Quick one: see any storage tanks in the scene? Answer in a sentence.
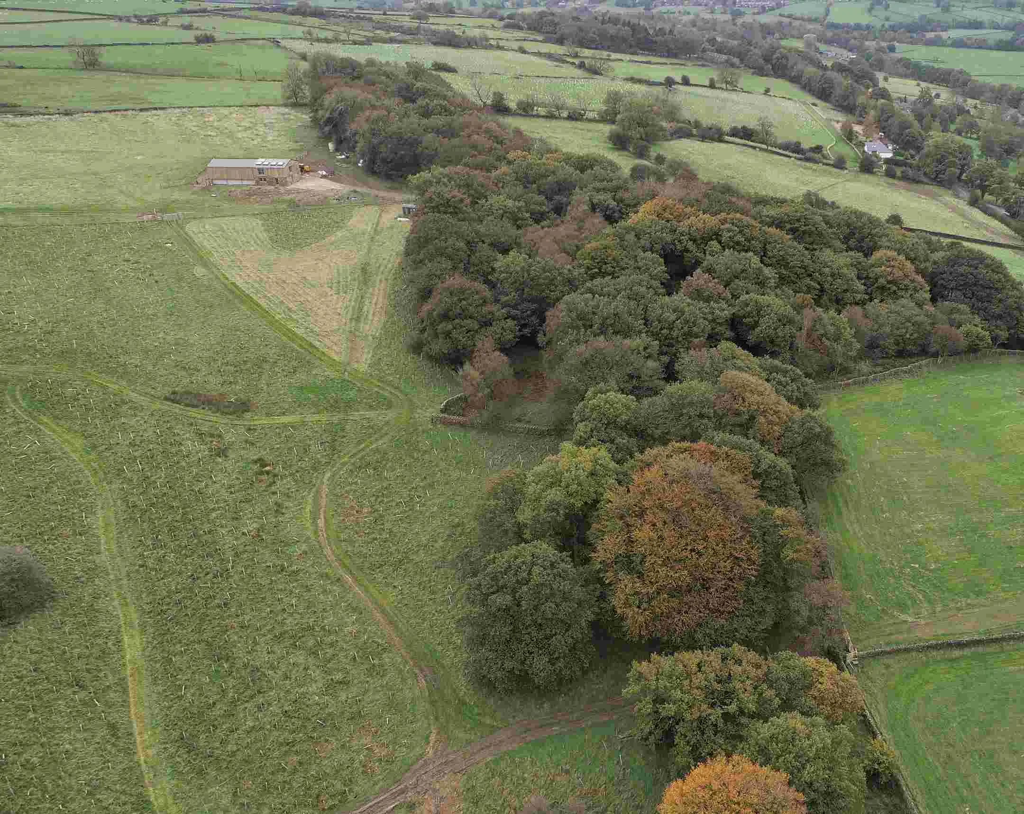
No, the frame has no storage tank in it.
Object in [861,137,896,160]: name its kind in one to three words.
house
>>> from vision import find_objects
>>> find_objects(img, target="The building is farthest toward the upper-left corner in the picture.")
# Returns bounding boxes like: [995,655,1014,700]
[207,159,297,186]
